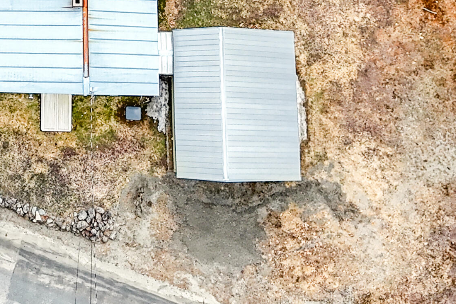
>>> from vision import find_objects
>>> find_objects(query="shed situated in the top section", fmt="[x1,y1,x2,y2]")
[164,26,302,183]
